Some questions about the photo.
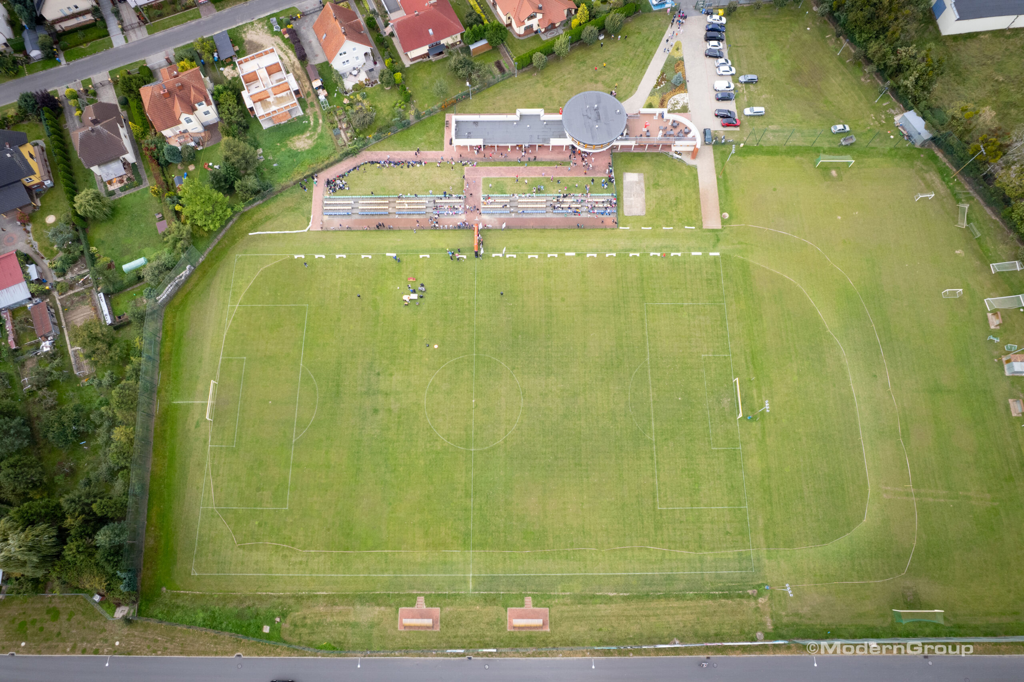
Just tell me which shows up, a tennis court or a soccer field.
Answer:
soccer field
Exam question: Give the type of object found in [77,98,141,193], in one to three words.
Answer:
house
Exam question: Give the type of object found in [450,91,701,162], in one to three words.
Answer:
building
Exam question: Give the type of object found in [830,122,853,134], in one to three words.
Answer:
vehicle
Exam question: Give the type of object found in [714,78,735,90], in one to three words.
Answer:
vehicle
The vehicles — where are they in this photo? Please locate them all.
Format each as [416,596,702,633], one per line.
[707,13,728,23]
[721,116,742,127]
[706,21,726,31]
[715,106,736,117]
[706,38,725,49]
[744,105,767,116]
[713,56,734,66]
[738,72,760,83]
[714,90,736,101]
[703,126,715,145]
[705,47,724,57]
[650,0,669,6]
[717,64,737,75]
[830,122,853,134]
[714,78,735,90]
[704,28,726,40]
